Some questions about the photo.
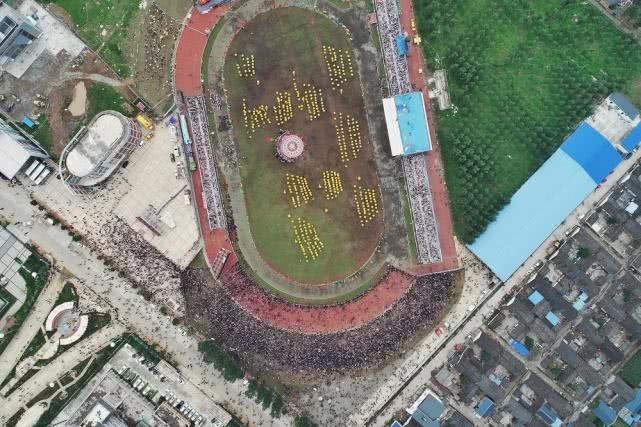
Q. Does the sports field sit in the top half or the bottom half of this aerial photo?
top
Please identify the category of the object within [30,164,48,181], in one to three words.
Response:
vehicle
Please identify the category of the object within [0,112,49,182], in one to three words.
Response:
building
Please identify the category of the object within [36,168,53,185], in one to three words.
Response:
vehicle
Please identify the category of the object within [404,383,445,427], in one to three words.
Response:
house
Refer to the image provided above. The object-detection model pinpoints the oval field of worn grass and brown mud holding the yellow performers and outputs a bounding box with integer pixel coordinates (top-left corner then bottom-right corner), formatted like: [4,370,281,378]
[220,4,387,287]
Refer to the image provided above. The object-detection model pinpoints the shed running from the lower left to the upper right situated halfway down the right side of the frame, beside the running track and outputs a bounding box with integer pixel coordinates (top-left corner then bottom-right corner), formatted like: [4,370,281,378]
[466,148,597,282]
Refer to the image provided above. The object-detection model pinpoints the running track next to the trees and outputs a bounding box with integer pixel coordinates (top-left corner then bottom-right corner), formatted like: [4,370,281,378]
[205,0,418,305]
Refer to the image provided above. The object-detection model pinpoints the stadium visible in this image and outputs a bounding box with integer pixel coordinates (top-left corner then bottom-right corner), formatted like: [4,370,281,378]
[175,0,464,334]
